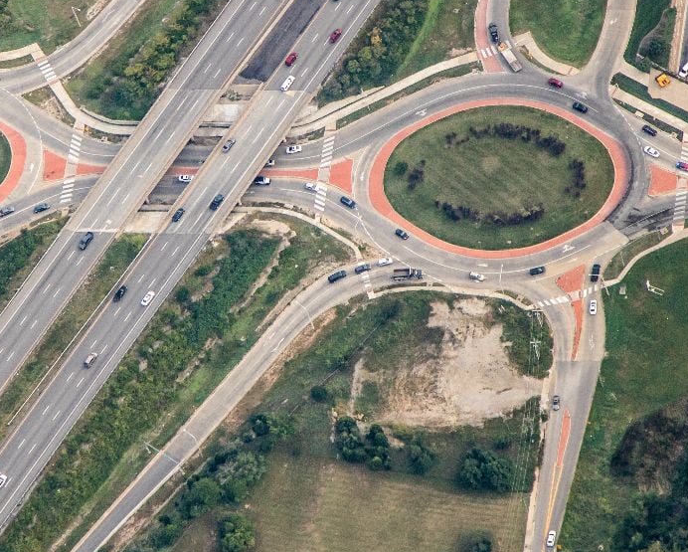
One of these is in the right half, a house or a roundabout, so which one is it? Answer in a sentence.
Visible in the right half is a roundabout.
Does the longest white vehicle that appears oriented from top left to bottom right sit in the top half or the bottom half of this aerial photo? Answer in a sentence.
You can find the longest white vehicle that appears oriented from top left to bottom right in the top half.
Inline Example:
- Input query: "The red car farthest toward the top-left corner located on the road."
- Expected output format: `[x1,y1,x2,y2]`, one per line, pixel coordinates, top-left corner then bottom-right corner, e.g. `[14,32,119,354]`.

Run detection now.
[285,51,299,67]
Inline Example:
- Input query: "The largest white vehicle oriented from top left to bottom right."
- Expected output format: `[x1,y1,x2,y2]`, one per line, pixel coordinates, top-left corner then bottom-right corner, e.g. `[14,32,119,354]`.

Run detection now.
[500,43,520,68]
